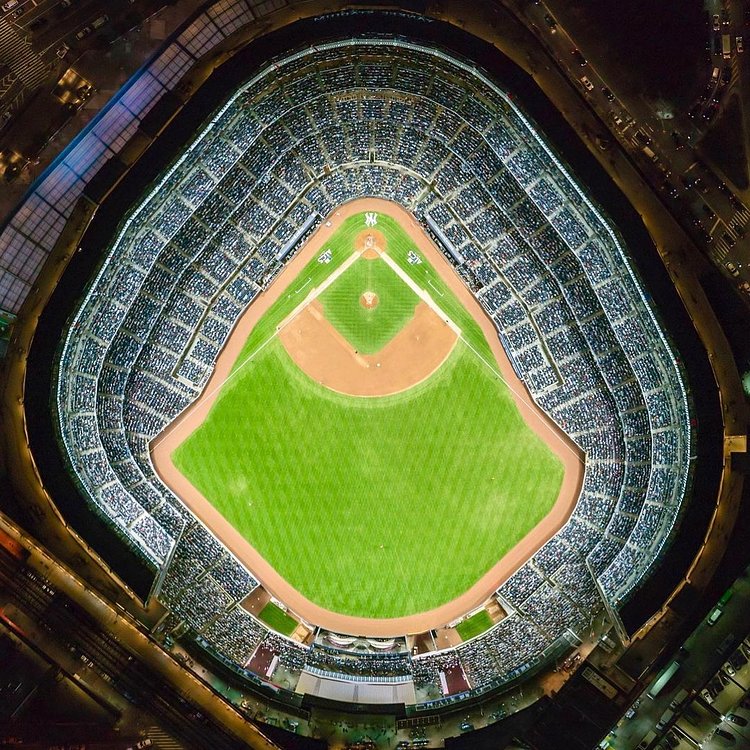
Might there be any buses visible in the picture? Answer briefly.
Yes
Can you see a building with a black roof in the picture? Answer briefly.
Yes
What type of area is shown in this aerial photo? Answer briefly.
sports ground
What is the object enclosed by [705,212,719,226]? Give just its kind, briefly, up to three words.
vehicle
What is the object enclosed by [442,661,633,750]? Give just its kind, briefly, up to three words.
building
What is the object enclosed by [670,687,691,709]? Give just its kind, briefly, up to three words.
truck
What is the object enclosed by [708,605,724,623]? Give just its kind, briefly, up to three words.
vehicle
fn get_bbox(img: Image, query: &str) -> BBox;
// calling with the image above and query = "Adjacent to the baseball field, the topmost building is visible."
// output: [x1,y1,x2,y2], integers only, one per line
[0,0,264,316]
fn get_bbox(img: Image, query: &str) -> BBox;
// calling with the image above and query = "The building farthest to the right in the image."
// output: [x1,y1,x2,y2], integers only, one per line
[727,436,746,471]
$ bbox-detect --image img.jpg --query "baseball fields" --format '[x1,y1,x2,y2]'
[150,198,586,635]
